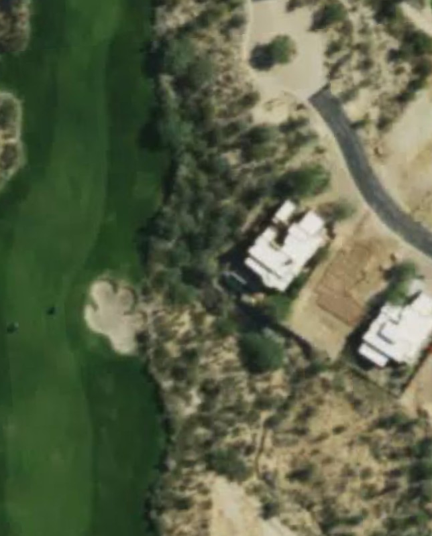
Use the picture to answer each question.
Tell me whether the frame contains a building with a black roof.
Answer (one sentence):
No, this view has no building with a black roof in it.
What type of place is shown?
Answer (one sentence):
The picture captures a golf course.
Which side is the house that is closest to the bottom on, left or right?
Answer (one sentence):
The house that is closest to the bottom appears in the right half of the scene.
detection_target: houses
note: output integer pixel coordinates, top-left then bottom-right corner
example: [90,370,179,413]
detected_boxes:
[359,289,432,367]
[244,200,330,294]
